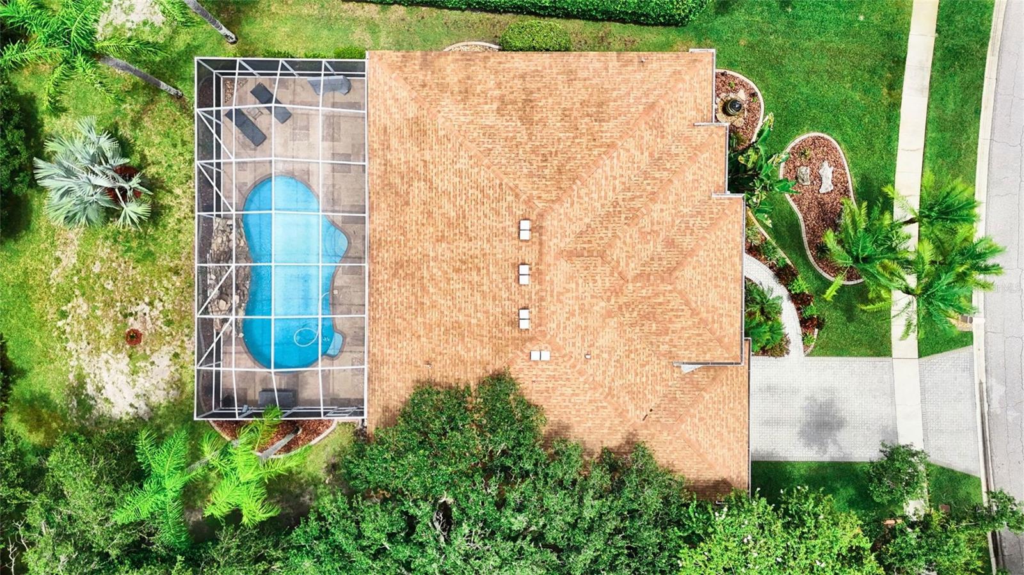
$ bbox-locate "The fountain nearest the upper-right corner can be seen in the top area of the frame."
[728,93,748,112]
